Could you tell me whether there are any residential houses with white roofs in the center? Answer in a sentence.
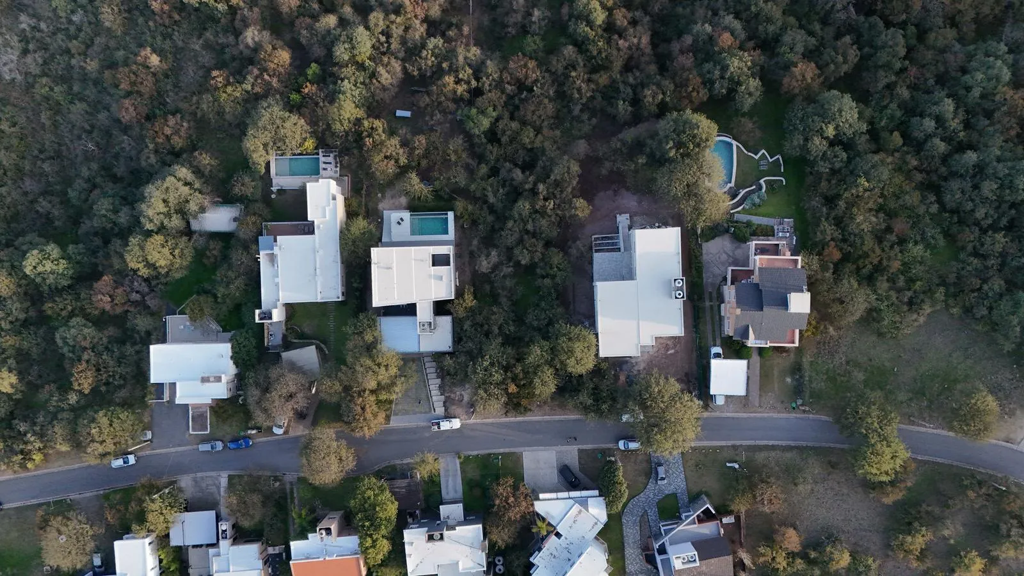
Yes, I can see a residential house with a white roof in the center.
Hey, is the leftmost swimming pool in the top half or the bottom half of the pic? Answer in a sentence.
The leftmost swimming pool is in the top half of the image.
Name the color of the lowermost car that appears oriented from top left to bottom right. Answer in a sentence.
In this view, the lowermost car that appears oriented from top left to bottom right is black.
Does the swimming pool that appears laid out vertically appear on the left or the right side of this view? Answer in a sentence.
The swimming pool that appears laid out vertically is on the right side of the image.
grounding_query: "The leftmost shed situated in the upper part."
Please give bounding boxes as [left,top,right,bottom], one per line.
[190,205,243,232]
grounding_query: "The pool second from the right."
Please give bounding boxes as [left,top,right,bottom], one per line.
[382,210,455,248]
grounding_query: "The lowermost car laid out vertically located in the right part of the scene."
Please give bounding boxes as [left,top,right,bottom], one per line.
[655,461,667,484]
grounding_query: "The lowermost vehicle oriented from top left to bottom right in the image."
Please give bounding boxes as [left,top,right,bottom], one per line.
[559,464,579,488]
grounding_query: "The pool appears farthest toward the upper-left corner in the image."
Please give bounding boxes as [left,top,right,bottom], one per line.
[271,149,341,190]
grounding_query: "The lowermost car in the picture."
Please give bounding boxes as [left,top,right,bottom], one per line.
[91,551,105,574]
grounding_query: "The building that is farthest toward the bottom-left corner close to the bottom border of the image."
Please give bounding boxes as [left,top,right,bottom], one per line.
[93,526,165,576]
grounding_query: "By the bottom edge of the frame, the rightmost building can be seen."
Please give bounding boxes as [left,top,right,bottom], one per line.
[650,494,734,576]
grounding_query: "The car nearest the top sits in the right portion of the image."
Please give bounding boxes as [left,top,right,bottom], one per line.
[710,345,722,359]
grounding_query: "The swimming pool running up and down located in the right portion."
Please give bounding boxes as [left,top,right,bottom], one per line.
[707,133,736,193]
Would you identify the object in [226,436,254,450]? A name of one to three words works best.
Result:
vehicle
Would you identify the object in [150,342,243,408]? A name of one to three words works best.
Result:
house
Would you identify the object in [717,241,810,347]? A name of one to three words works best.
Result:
house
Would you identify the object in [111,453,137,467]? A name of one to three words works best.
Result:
car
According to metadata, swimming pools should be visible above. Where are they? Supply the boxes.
[382,210,455,248]
[271,149,341,190]
[707,133,736,193]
